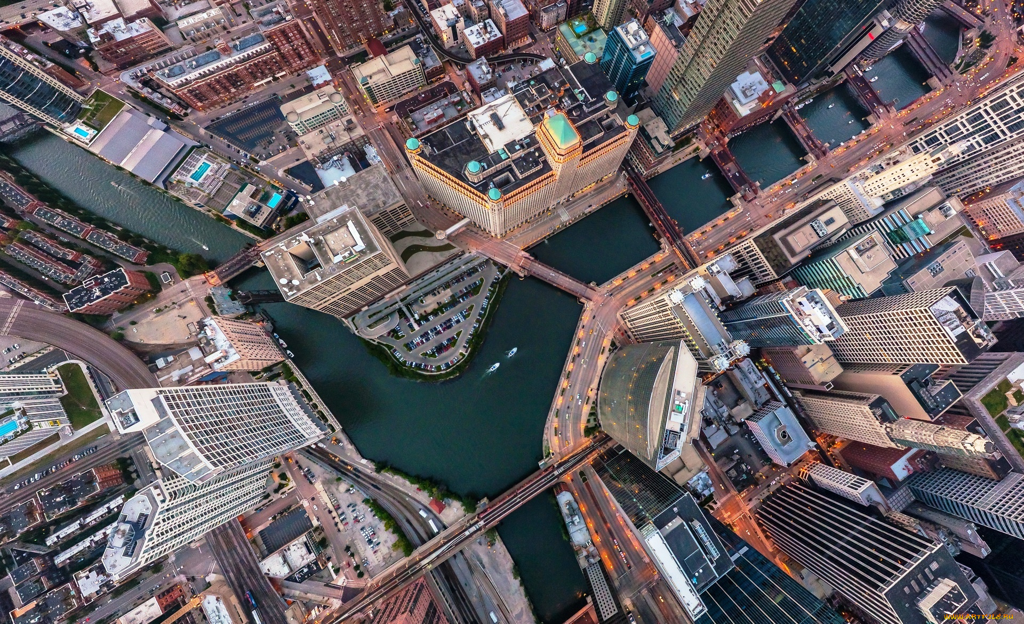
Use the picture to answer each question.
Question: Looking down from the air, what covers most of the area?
buildings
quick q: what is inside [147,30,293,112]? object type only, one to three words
building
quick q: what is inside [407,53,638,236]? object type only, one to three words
building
